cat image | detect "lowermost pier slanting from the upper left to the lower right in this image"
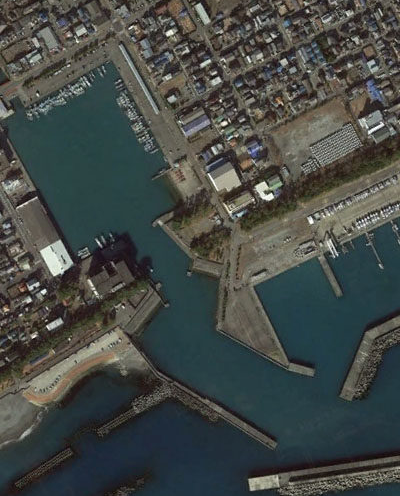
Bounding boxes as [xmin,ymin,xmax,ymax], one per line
[129,334,276,450]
